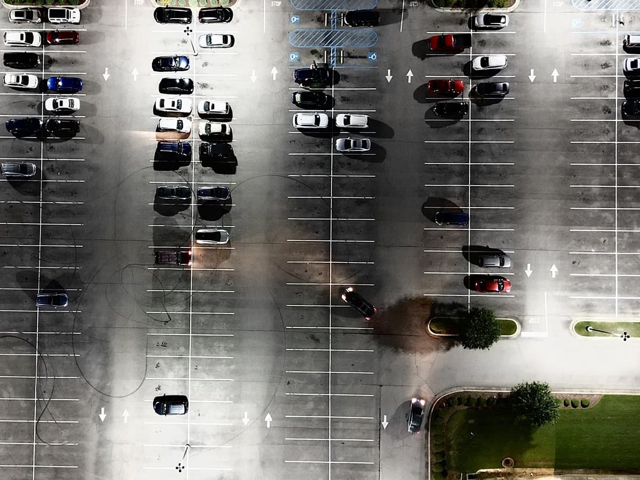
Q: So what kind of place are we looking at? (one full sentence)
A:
This looks like a parking lot.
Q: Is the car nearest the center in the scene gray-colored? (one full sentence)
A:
No, from above the car nearest the center looks black.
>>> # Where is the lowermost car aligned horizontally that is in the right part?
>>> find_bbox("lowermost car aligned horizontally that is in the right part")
[473,276,511,294]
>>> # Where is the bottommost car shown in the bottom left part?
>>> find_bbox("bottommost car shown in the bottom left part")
[152,397,189,415]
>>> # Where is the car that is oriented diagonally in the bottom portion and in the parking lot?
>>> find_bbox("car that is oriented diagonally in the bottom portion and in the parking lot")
[342,288,375,320]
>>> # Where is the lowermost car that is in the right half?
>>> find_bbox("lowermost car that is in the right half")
[406,397,425,434]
